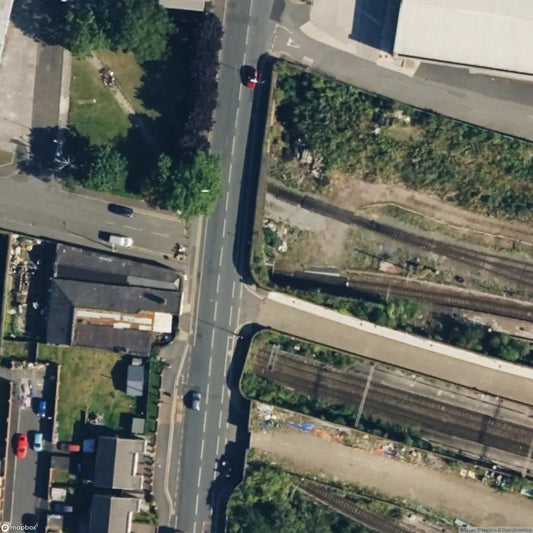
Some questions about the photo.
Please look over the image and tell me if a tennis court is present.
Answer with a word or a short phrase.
No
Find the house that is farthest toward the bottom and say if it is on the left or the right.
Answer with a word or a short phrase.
left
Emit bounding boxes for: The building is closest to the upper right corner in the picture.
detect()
[394,0,533,78]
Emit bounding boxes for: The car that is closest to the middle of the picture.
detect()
[153,333,174,346]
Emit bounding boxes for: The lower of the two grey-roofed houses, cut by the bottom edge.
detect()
[89,496,143,533]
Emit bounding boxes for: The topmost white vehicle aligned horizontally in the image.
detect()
[109,235,133,248]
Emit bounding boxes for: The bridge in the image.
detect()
[268,291,533,407]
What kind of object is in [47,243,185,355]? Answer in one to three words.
building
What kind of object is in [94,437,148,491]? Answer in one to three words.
house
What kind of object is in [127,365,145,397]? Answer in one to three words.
shed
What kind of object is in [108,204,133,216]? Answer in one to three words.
vehicle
